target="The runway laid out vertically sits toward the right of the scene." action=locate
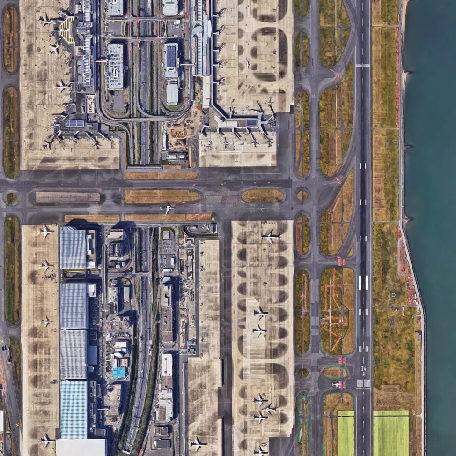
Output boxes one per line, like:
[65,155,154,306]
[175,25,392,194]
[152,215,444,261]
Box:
[356,0,372,456]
